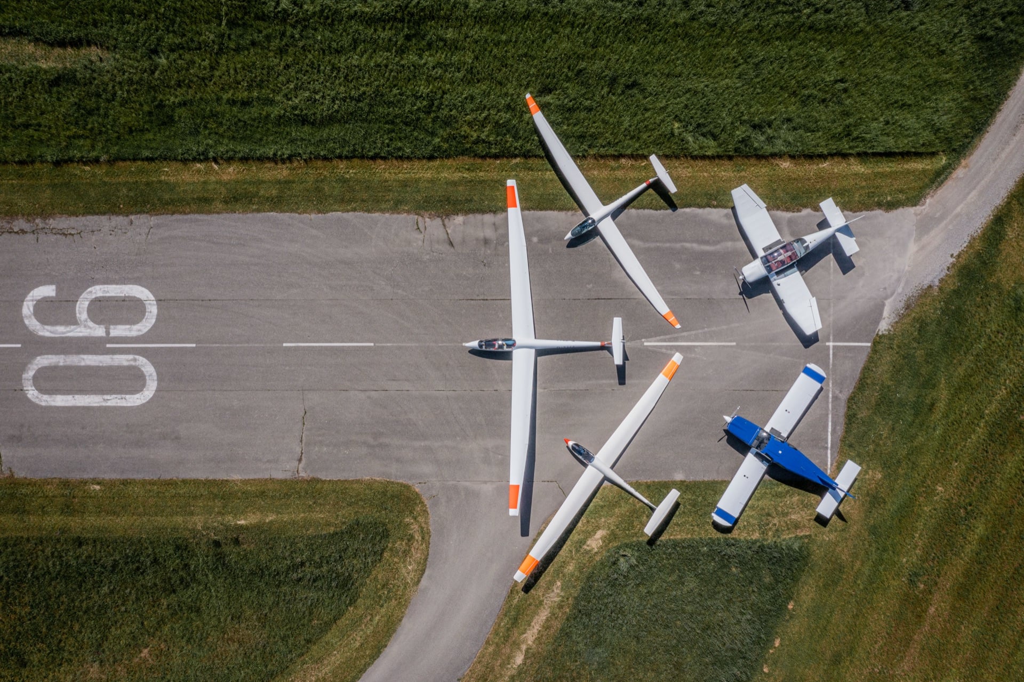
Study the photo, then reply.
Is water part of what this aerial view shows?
No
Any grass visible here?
Yes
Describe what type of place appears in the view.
airport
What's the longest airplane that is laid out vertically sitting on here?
apron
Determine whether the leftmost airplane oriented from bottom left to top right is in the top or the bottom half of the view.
bottom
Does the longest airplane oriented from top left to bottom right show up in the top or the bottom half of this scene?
top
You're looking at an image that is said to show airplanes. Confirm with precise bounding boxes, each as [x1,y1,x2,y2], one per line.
[526,94,681,328]
[731,184,859,335]
[465,180,625,516]
[713,363,861,526]
[514,353,683,582]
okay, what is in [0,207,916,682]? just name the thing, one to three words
runway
